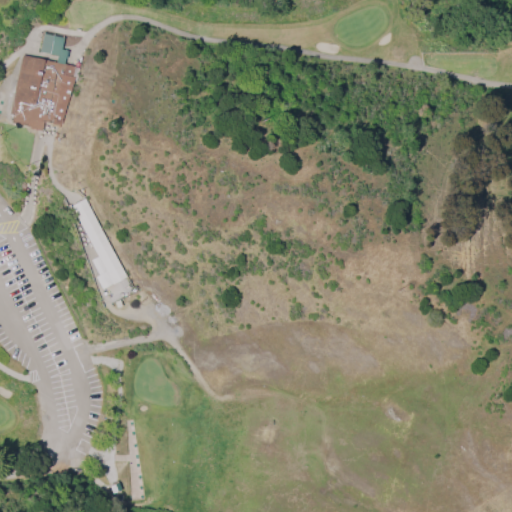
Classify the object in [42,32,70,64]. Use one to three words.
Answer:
building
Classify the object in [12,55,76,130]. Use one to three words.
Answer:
building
